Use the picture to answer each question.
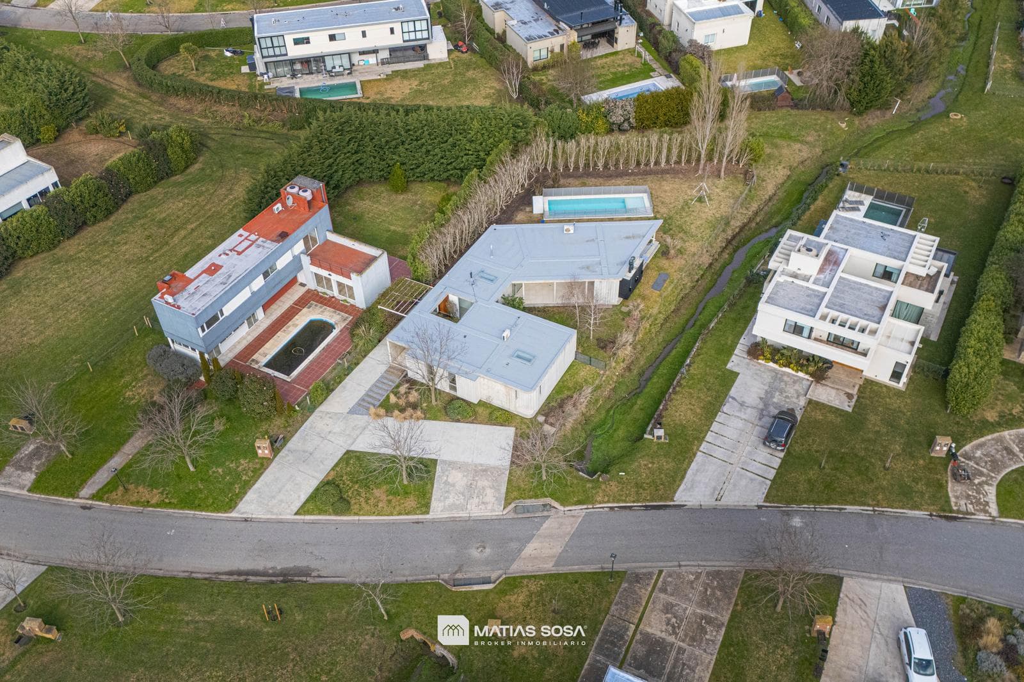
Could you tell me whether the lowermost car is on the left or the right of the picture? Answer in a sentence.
The lowermost car is on the right side of the image.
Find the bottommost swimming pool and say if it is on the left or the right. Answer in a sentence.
It is on the left.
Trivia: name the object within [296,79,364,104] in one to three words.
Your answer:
swimming pool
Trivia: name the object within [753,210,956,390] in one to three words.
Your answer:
house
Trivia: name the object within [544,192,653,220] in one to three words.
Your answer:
swimming pool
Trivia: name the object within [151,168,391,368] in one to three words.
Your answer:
house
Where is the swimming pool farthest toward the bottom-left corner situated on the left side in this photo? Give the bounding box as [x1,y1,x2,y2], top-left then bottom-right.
[244,301,353,381]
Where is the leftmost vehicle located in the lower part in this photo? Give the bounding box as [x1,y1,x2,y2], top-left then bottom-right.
[764,409,798,451]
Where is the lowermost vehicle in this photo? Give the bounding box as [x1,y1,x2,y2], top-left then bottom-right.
[896,628,940,682]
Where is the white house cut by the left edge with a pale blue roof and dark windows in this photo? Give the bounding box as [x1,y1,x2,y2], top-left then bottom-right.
[0,133,62,223]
